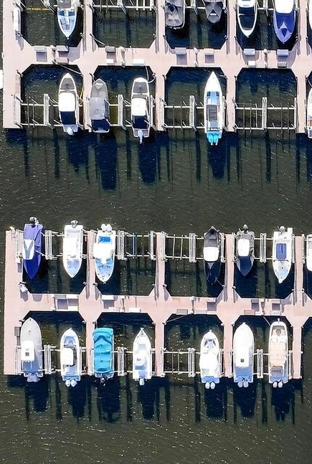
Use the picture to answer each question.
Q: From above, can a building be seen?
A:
No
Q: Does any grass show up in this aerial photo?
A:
No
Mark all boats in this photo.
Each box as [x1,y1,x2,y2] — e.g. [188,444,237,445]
[91,327,114,384]
[306,234,312,270]
[204,69,222,141]
[273,224,293,285]
[237,0,257,39]
[269,321,288,389]
[233,322,254,388]
[63,219,84,280]
[58,0,77,40]
[132,327,152,386]
[203,226,221,285]
[22,219,44,279]
[88,78,110,134]
[131,77,150,146]
[204,0,222,24]
[274,0,296,44]
[19,318,42,383]
[93,224,116,282]
[56,71,77,139]
[59,327,80,387]
[200,328,220,389]
[236,226,255,277]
